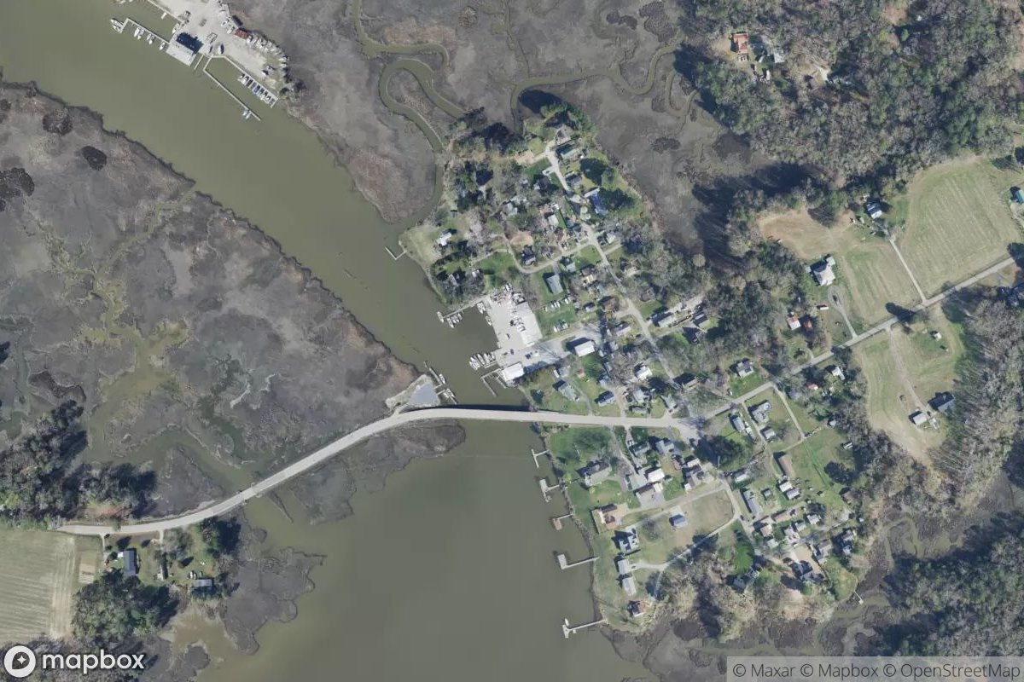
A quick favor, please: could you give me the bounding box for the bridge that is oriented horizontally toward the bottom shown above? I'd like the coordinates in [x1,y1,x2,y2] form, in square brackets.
[412,409,529,422]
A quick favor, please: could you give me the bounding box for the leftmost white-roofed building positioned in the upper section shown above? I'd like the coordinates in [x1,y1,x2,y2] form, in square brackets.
[165,39,197,67]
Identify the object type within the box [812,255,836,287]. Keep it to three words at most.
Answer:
house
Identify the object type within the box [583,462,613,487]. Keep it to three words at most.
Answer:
house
